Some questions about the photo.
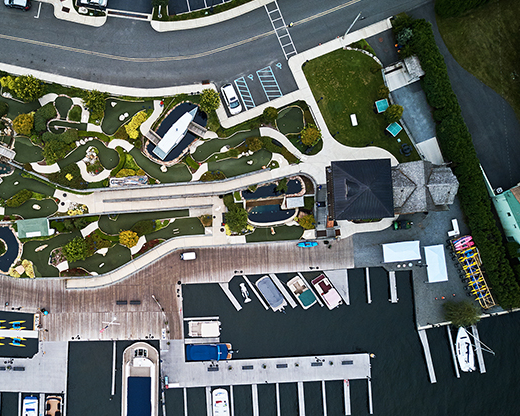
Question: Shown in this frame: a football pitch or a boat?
boat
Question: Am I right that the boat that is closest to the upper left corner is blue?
No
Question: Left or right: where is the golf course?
left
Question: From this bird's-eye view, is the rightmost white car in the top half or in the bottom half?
top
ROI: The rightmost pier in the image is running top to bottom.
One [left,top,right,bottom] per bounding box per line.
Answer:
[470,321,486,375]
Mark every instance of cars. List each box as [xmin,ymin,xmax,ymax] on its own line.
[220,82,241,116]
[3,0,32,12]
[80,0,110,9]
